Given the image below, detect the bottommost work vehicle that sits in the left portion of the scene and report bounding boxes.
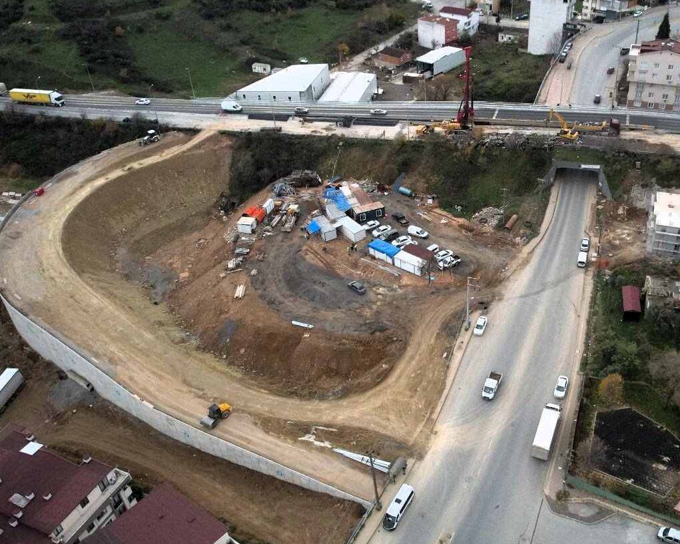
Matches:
[195,398,236,435]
